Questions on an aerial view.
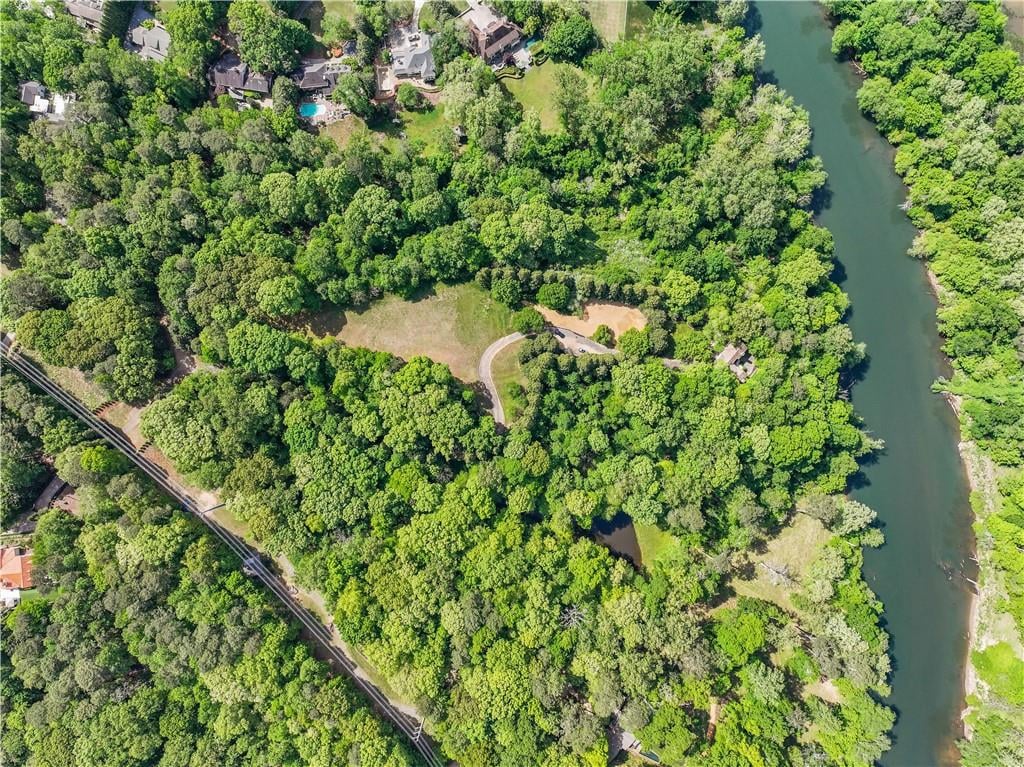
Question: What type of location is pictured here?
forest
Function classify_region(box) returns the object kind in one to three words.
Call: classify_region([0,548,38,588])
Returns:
house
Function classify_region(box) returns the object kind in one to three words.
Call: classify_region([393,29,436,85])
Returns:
house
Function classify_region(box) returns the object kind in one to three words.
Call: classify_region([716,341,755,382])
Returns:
building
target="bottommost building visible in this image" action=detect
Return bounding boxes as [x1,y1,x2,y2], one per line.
[618,728,642,751]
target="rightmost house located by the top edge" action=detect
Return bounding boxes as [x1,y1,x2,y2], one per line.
[467,17,523,68]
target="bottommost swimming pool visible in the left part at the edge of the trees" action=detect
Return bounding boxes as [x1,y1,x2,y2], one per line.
[298,102,326,118]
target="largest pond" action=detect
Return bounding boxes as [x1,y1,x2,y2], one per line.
[596,509,643,576]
